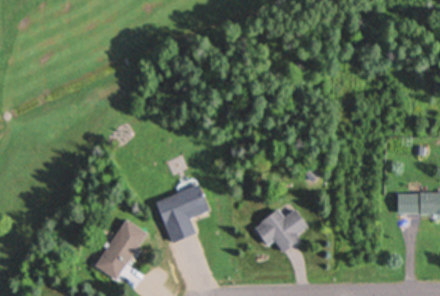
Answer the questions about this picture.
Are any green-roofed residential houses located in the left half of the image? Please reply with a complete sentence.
No, in the left half of the image there is no green-roofed residential house.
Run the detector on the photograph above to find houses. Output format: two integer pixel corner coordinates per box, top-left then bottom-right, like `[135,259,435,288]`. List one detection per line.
[158,182,210,250]
[398,182,440,216]
[254,212,312,252]
[95,220,148,280]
